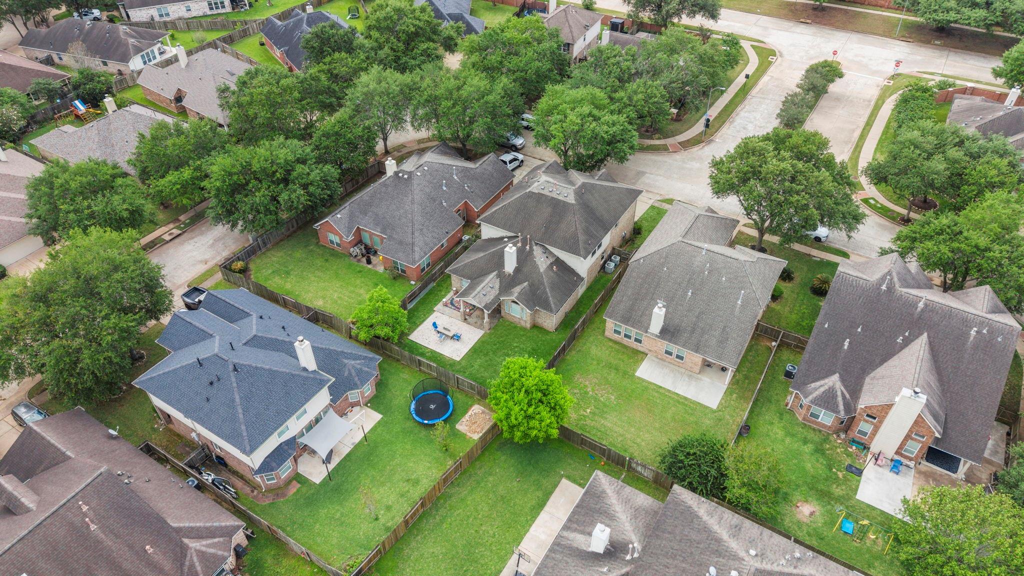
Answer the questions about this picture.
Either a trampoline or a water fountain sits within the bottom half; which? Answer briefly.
trampoline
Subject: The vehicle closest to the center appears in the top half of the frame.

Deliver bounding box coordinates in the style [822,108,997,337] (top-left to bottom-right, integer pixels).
[503,155,527,172]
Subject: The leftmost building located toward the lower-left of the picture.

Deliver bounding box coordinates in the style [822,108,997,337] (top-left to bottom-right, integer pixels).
[0,406,247,576]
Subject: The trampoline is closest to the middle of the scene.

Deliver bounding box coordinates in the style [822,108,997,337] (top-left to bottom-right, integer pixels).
[407,381,457,431]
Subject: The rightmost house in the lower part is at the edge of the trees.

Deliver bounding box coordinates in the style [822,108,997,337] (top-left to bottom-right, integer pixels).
[783,252,1022,477]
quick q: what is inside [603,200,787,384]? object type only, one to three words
house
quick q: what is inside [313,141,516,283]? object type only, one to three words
house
